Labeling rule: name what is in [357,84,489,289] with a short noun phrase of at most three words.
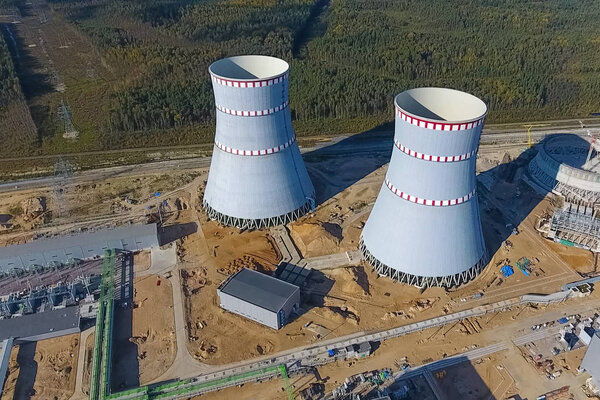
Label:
cooling tower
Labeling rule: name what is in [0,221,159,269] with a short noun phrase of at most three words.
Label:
building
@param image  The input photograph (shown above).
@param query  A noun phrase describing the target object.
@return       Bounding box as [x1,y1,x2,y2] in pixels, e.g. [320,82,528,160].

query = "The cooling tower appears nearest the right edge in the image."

[526,132,600,207]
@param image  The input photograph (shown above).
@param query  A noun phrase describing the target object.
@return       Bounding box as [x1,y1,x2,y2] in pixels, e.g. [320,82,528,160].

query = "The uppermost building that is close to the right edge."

[527,206,600,246]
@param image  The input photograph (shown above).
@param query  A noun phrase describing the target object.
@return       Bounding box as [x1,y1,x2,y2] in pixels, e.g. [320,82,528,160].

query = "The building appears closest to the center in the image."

[216,268,297,329]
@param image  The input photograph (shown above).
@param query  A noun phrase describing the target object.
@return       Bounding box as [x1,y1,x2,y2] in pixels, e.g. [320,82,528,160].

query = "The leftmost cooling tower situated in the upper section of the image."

[203,53,315,230]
